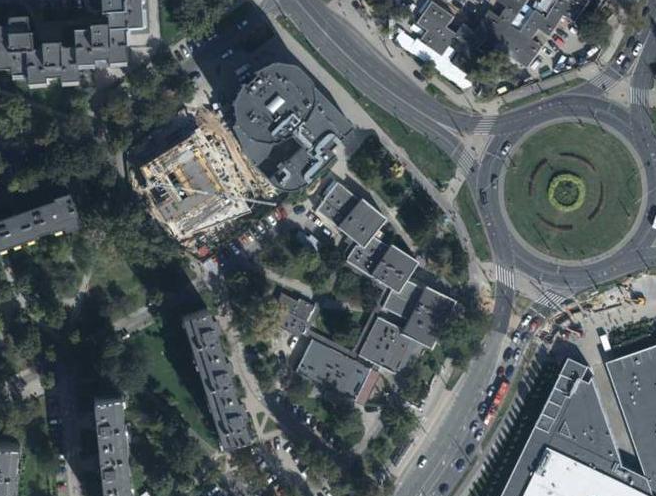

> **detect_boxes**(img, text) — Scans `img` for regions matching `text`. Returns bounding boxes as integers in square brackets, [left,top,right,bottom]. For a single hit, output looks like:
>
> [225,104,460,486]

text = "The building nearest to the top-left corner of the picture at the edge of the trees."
[0,0,149,88]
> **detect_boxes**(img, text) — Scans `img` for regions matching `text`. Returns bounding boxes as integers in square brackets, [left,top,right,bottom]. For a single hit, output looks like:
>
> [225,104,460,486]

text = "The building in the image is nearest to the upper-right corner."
[492,0,588,70]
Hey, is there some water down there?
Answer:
No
